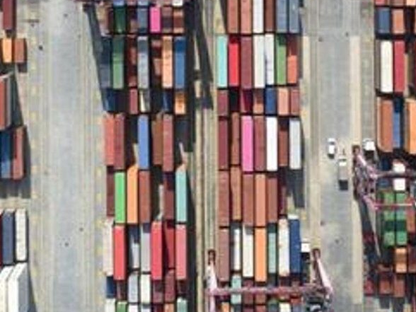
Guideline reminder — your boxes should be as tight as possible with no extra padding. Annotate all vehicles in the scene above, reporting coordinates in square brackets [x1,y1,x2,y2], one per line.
[364,138,377,168]
[338,157,348,182]
[302,238,310,285]
[327,139,335,158]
